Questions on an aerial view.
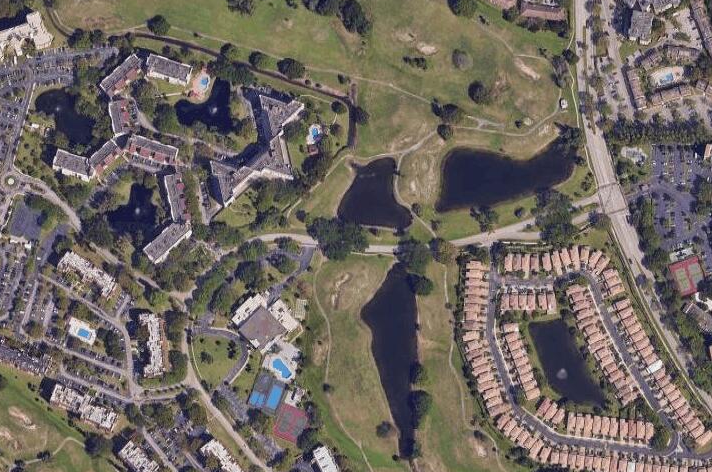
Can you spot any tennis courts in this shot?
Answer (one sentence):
Yes, this view includes a tennis court.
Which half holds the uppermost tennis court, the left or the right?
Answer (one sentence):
The uppermost tennis court is on the right side of the image.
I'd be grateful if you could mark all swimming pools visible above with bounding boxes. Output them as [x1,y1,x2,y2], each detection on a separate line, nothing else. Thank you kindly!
[307,124,320,143]
[262,340,301,382]
[68,317,95,344]
[649,65,684,84]
[188,67,210,100]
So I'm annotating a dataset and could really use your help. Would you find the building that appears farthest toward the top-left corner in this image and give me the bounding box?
[0,11,56,63]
